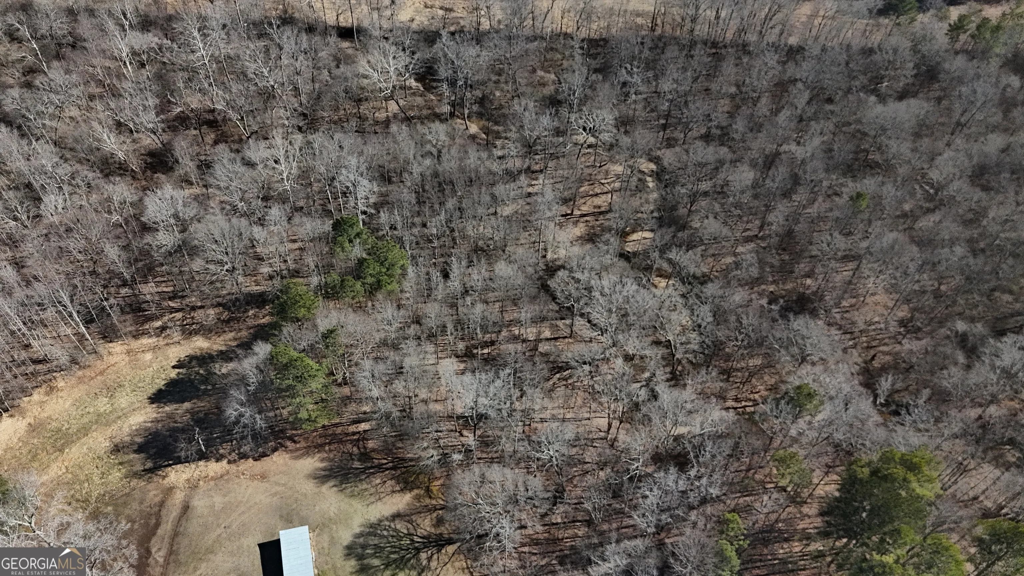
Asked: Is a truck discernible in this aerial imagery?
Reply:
No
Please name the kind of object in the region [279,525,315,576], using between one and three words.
shed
